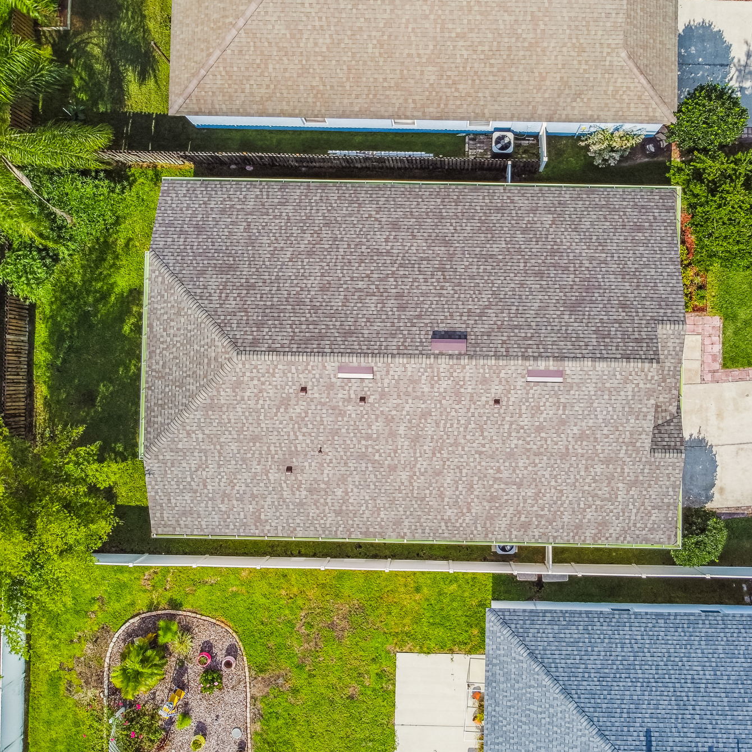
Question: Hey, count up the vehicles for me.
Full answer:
The picture shows no vehicles.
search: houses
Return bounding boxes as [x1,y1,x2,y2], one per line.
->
[483,600,752,752]
[166,0,680,135]
[139,176,686,548]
